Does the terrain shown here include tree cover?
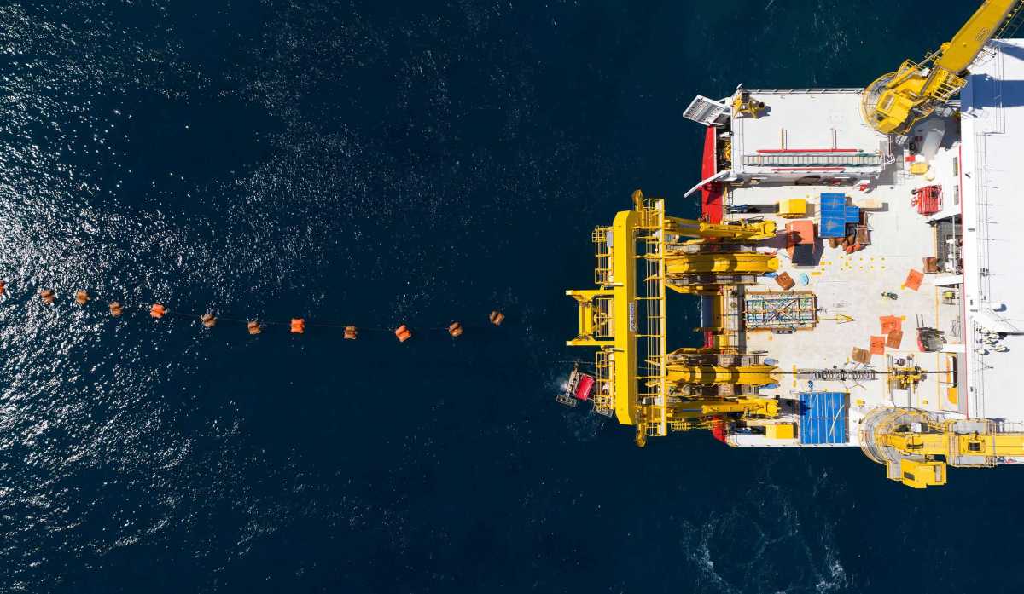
No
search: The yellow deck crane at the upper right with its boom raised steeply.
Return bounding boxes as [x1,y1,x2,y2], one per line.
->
[860,0,1024,137]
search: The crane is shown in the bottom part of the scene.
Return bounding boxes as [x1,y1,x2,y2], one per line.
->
[850,401,1024,489]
